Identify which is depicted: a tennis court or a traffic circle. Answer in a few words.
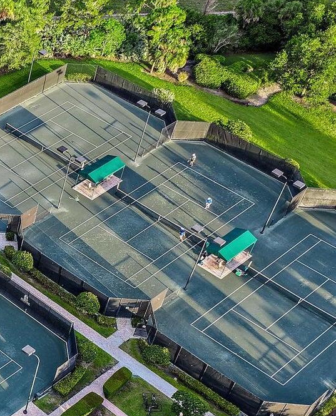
tennis court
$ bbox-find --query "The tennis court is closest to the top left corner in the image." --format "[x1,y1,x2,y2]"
[0,82,170,228]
